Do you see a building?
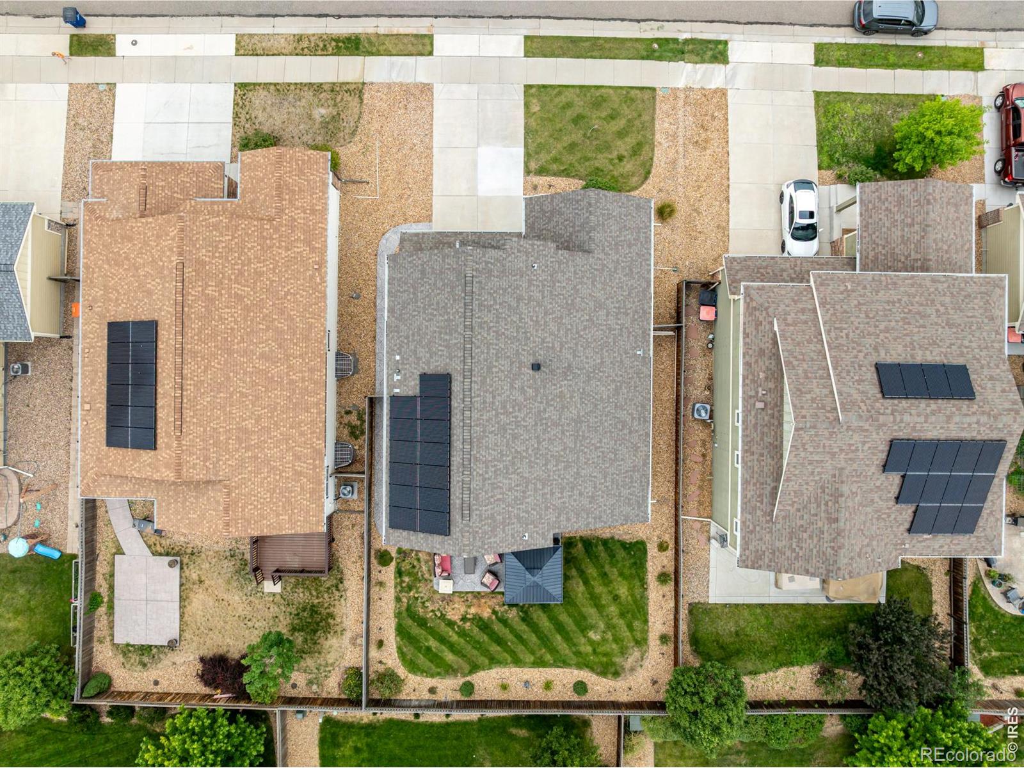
Yes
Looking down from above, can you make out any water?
No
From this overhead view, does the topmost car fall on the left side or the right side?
right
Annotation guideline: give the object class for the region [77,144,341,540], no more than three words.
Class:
house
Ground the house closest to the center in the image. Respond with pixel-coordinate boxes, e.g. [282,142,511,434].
[382,190,657,554]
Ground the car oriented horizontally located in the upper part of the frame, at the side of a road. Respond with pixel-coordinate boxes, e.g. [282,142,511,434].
[856,0,943,38]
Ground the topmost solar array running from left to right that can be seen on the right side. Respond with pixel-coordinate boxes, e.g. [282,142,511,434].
[876,363,976,401]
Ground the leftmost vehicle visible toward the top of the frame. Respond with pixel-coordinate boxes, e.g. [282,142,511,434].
[780,179,825,254]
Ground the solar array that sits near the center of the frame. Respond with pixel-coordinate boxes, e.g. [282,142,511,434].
[389,374,451,537]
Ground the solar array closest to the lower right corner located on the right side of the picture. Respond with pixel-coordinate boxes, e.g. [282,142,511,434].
[884,439,1006,535]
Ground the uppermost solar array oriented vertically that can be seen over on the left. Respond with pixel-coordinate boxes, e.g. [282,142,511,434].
[106,319,157,451]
